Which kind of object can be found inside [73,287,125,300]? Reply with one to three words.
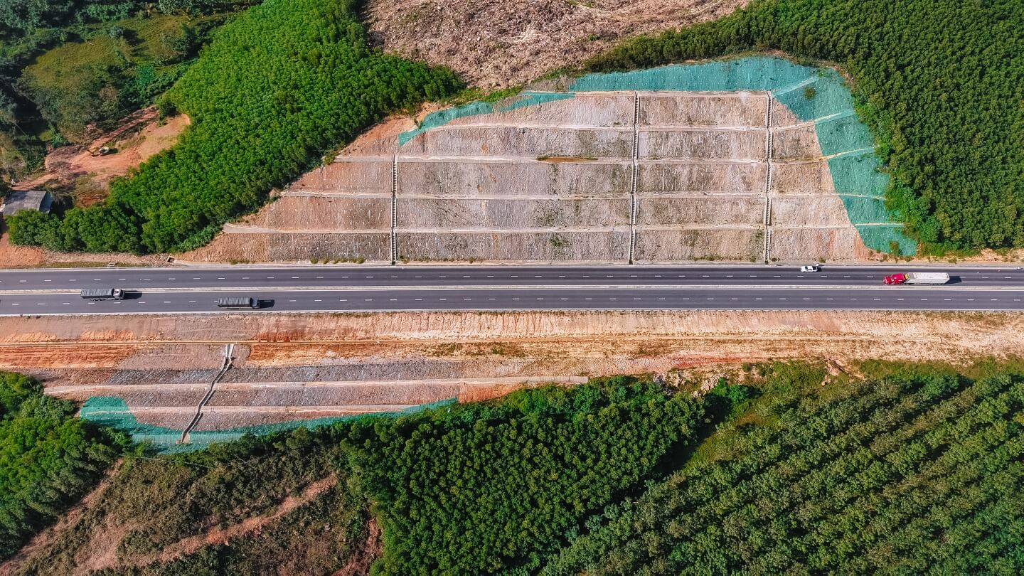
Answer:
vehicle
